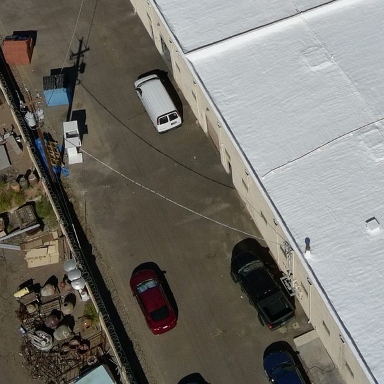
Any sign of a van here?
Yes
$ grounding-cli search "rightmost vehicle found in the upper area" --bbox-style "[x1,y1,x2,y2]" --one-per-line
[132,72,185,137]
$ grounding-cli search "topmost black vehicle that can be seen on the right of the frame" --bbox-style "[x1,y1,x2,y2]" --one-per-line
[234,247,298,335]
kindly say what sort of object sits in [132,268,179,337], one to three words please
car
